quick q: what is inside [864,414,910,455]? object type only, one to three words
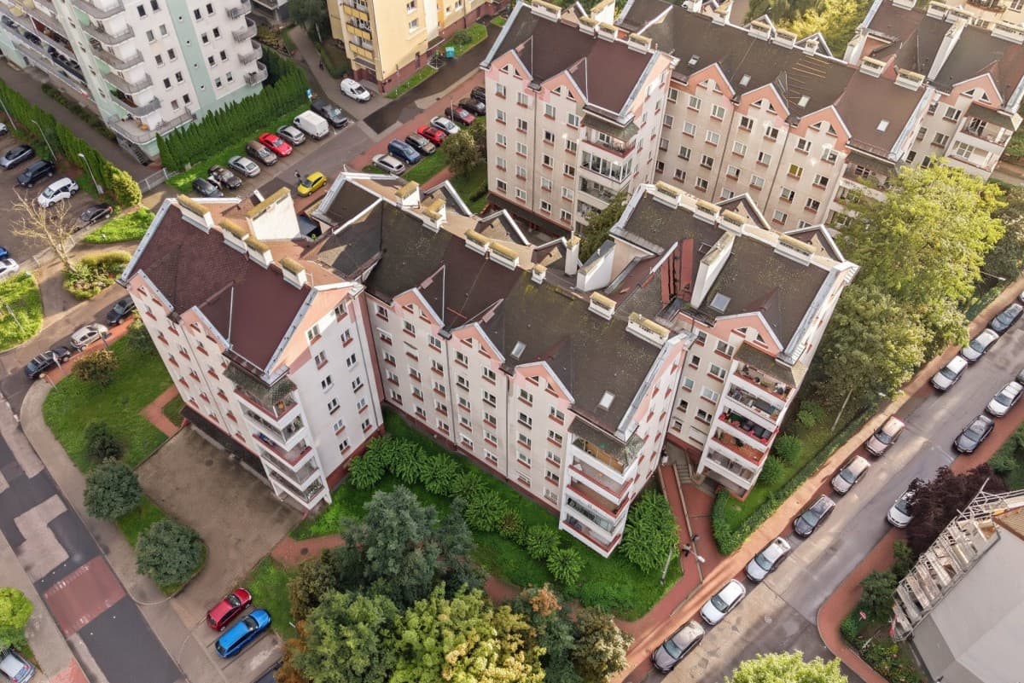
car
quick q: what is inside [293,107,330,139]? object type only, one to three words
van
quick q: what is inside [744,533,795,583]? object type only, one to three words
car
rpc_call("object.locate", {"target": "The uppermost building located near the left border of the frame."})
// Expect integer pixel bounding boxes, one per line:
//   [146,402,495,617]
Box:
[0,0,269,159]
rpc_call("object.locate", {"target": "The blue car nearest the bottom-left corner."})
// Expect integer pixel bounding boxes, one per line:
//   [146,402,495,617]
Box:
[212,609,274,661]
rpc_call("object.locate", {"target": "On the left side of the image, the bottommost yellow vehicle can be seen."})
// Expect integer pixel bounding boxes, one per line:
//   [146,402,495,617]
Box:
[294,168,331,196]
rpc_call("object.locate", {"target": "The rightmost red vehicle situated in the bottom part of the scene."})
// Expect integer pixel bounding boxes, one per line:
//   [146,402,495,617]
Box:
[202,587,256,634]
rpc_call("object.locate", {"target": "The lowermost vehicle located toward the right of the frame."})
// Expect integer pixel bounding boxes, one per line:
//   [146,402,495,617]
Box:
[651,617,705,674]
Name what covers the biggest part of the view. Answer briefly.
buildings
